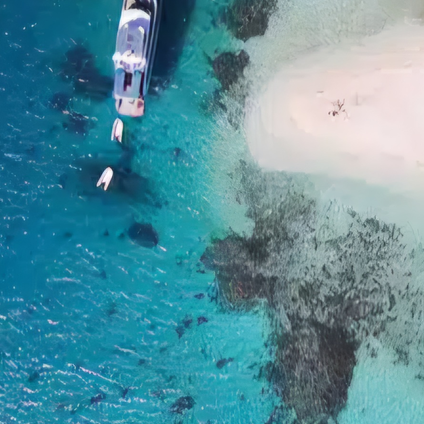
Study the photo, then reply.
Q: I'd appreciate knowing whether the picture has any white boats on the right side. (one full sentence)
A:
No, no white boat appears on the right side.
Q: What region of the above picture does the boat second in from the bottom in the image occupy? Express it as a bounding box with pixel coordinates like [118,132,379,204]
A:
[111,117,123,142]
